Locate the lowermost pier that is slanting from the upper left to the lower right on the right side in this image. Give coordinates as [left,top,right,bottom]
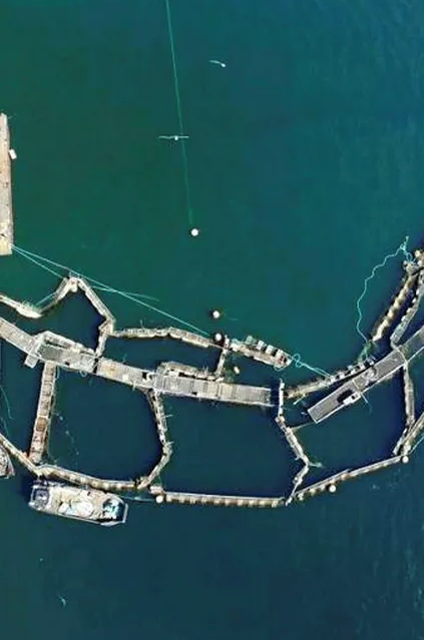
[276,416,310,465]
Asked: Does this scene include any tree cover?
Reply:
No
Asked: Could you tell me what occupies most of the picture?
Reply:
water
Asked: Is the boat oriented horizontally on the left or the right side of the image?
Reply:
left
